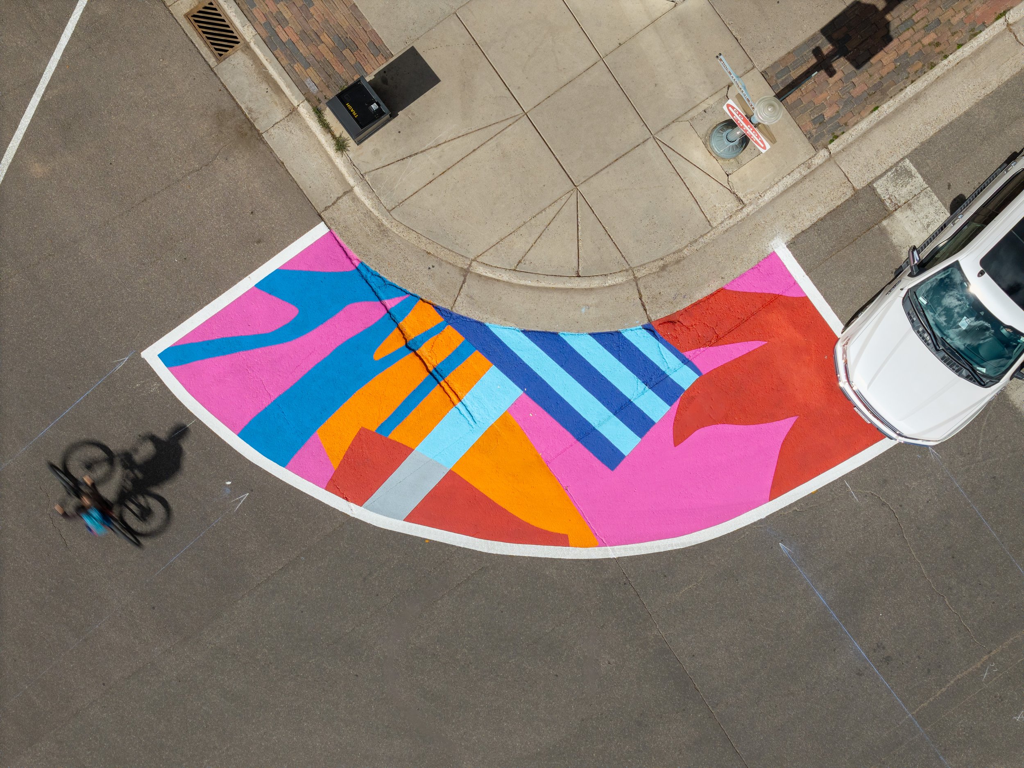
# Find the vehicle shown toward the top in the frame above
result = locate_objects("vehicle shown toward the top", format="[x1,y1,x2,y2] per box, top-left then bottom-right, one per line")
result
[832,146,1024,447]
